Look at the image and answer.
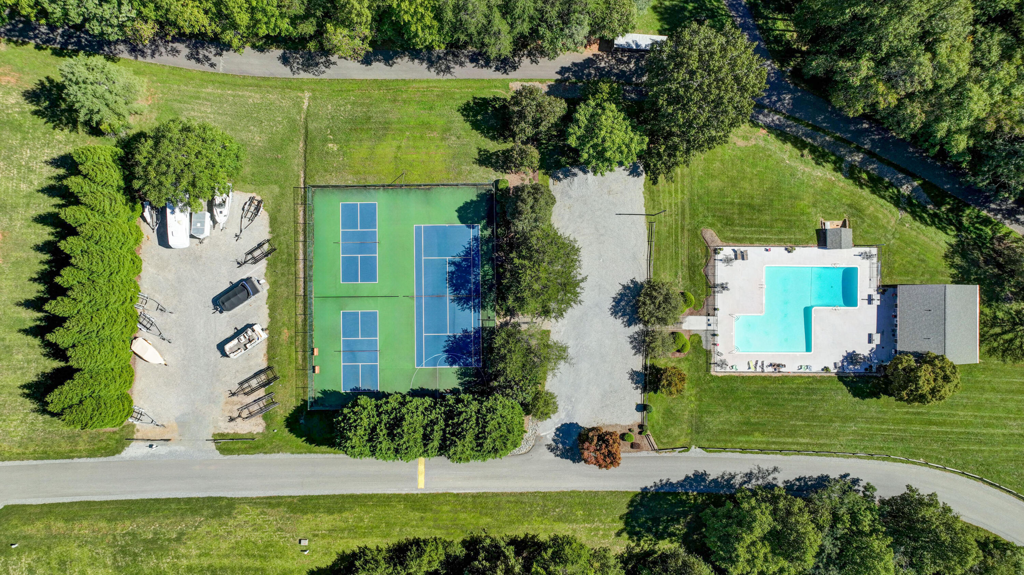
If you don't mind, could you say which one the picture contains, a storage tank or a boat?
boat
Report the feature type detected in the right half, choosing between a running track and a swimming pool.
swimming pool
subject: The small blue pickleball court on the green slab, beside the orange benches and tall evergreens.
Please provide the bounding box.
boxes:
[341,310,379,392]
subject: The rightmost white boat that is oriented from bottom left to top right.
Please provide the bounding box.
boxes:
[223,324,268,358]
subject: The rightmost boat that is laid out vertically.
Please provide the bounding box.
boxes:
[215,184,234,233]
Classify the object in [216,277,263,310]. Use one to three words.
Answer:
boat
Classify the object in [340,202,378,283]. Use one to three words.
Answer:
sports court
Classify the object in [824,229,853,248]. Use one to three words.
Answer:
building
